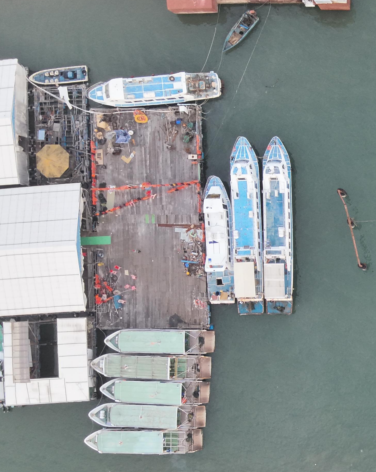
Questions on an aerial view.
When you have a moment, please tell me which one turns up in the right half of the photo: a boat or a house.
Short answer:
boat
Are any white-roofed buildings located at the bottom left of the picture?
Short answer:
Yes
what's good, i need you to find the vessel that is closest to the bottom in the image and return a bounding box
[82,428,203,453]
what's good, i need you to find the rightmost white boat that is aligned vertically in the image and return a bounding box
[262,136,296,314]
